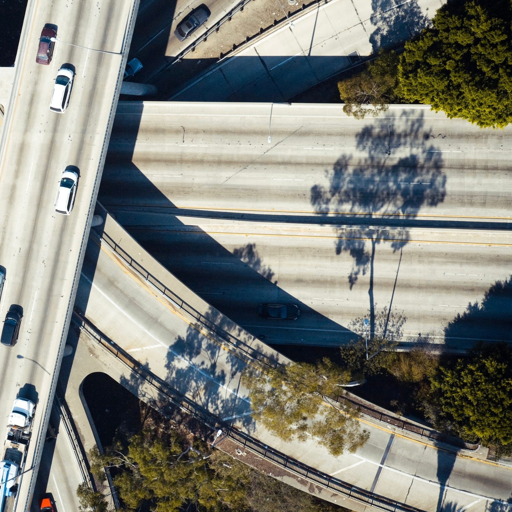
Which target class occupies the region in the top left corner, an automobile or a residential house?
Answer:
automobile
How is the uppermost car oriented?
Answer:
on a diagonal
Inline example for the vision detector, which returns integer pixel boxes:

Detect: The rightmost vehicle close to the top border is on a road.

[173,3,212,42]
